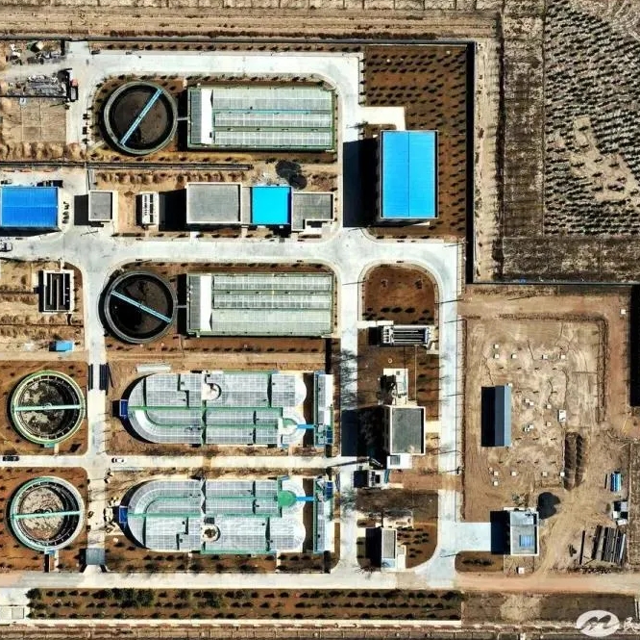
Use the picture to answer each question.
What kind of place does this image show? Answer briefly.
industrial area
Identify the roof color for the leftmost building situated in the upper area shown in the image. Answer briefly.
blue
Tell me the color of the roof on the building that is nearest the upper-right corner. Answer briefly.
blue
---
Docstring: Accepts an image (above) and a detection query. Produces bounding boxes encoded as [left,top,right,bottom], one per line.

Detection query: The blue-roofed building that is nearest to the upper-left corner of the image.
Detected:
[0,187,61,230]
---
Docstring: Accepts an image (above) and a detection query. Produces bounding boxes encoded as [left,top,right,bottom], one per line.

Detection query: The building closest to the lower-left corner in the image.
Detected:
[0,602,25,619]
